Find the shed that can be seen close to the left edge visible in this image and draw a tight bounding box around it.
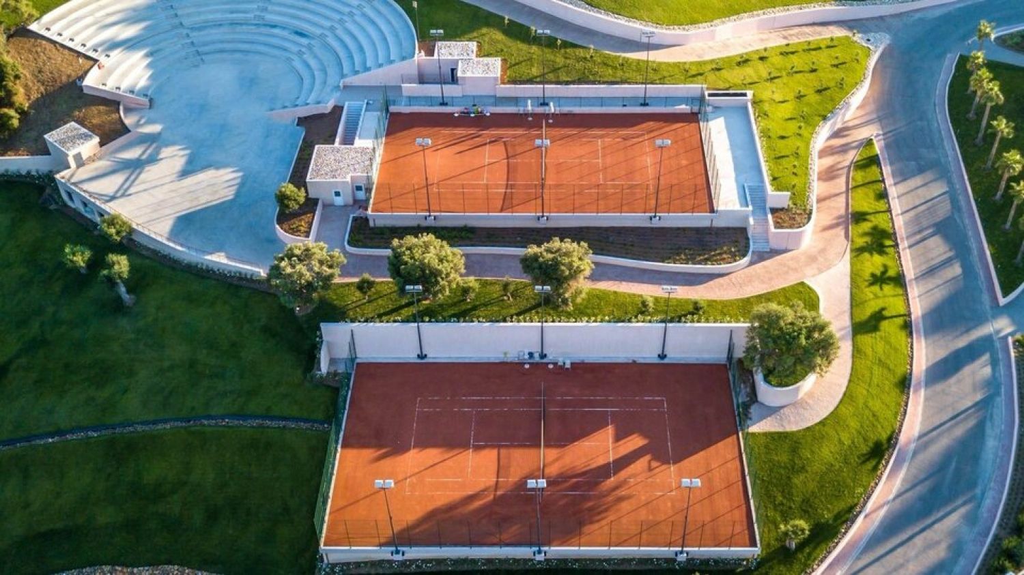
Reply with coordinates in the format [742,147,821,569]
[47,123,104,169]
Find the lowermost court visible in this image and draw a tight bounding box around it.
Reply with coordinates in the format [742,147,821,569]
[324,362,756,548]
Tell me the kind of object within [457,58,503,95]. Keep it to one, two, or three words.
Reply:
building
